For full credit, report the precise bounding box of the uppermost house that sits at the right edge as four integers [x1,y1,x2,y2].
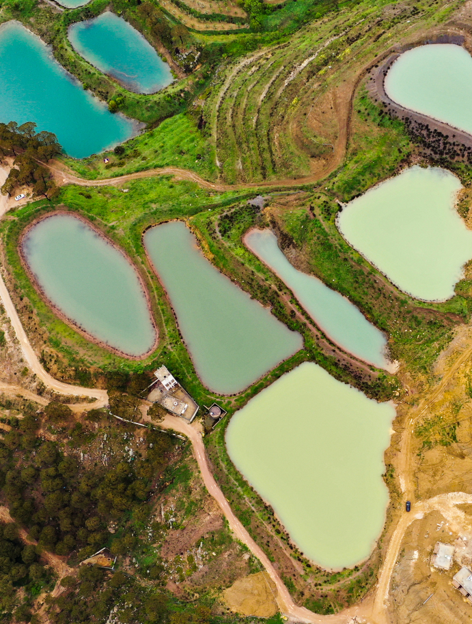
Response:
[430,543,455,569]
